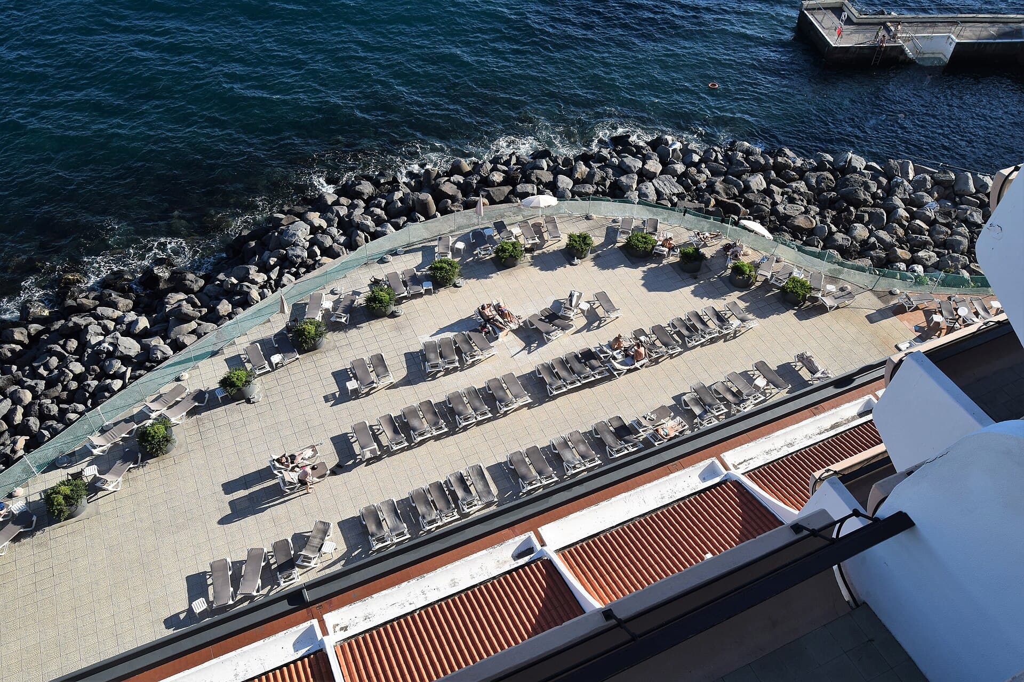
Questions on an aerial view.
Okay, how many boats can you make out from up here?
0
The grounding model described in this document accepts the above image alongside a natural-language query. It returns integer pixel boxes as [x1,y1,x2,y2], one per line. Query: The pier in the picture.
[790,0,1024,69]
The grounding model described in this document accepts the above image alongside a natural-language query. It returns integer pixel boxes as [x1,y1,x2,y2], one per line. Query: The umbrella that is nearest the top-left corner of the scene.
[275,294,295,323]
